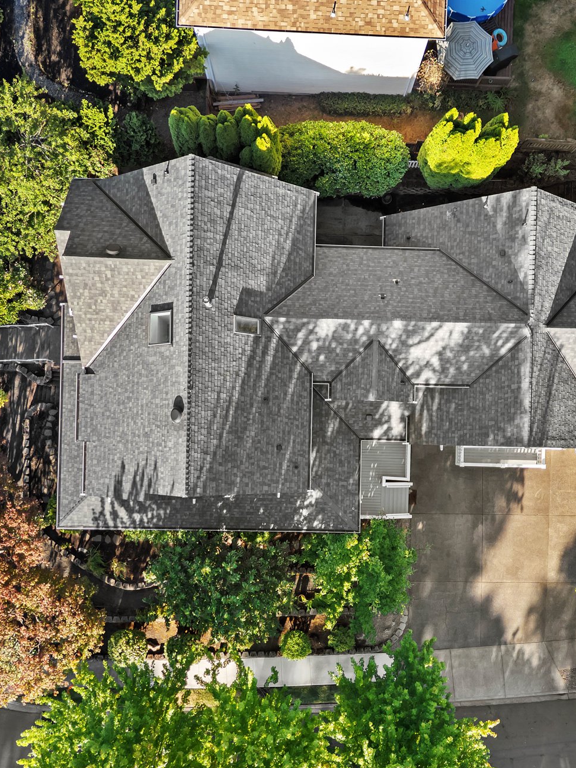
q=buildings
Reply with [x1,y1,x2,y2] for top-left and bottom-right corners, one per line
[172,0,451,97]
[52,154,576,538]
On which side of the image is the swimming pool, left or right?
right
